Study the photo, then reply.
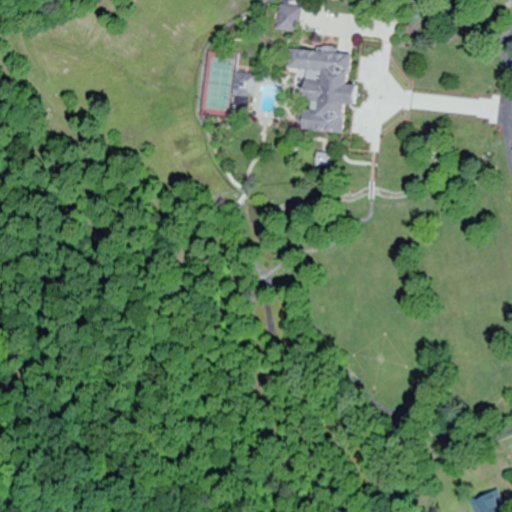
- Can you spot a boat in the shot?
No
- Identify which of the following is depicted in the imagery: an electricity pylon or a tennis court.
tennis court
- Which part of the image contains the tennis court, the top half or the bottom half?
top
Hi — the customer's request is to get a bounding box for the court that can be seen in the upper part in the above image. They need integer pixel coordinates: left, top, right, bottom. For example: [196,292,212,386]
[202,50,237,116]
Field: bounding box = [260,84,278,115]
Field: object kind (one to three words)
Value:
swimming pool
